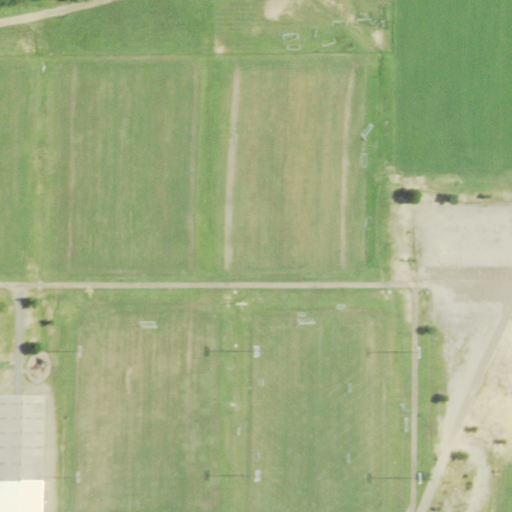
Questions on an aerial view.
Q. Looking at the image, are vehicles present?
No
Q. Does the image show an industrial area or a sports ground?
sports ground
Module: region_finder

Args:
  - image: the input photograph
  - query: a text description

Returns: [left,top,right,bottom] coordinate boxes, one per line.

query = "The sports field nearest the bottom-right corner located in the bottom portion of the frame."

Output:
[252,311,389,512]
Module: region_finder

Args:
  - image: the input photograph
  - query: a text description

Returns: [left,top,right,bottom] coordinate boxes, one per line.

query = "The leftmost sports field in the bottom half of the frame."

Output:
[76,306,221,512]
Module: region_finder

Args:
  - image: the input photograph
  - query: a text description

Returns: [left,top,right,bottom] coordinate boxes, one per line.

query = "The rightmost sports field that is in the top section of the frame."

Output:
[222,62,357,278]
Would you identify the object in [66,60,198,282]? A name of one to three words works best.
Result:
sports field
